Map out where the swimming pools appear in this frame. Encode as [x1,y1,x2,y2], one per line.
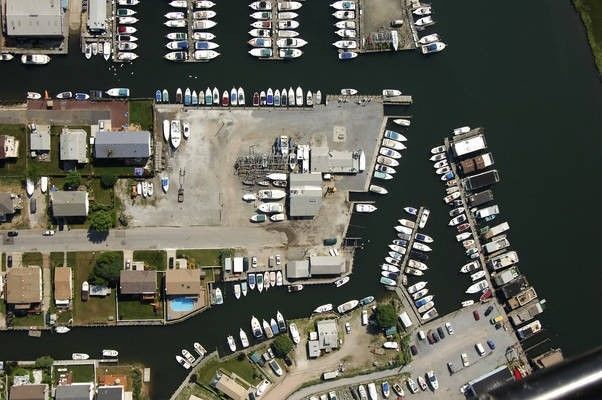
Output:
[170,296,197,312]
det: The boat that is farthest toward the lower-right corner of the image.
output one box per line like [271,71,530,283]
[532,349,564,371]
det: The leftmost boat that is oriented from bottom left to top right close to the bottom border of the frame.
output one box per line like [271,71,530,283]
[255,378,273,398]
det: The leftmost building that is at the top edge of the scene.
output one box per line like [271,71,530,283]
[6,0,63,36]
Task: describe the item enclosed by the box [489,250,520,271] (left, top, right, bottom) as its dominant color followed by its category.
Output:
white boat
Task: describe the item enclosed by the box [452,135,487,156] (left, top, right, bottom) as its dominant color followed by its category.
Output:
white boat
